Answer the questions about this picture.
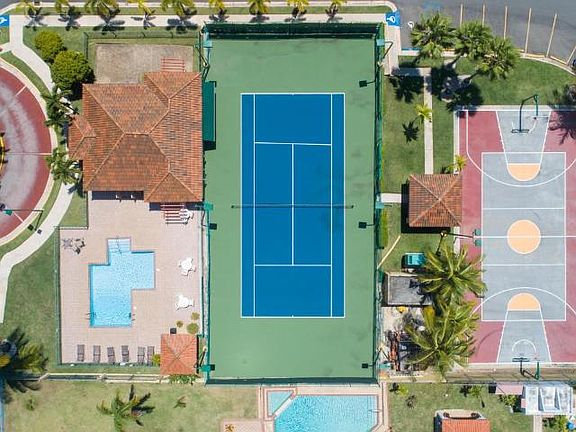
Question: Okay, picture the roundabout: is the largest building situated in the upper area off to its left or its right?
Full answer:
The largest building situated in the upper area is to the right of the roundabout.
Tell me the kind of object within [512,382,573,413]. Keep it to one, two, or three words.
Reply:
shed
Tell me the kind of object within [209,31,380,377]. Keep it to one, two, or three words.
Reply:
tennis court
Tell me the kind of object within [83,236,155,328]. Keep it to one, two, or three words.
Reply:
swimming pool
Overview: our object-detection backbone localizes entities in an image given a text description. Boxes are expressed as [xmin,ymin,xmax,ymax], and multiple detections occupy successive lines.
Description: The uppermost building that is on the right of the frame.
[404,173,462,228]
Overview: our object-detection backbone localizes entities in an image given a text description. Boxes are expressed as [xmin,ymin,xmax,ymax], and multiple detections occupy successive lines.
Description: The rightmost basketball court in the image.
[459,110,576,363]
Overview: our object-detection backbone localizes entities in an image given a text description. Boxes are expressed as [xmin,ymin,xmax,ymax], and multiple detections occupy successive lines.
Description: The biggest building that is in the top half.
[68,69,202,204]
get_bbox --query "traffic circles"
[0,56,60,242]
